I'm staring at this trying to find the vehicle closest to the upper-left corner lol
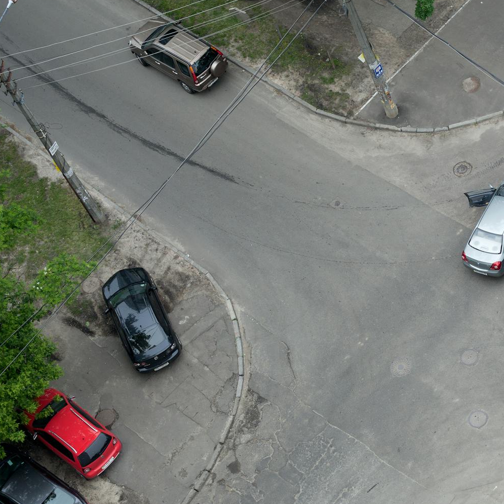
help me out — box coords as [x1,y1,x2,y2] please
[131,20,234,94]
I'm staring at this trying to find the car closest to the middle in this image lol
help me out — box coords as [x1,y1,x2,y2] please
[102,266,182,374]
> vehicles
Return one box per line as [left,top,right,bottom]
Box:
[0,446,85,504]
[25,384,125,484]
[131,20,234,94]
[102,266,182,374]
[458,177,504,279]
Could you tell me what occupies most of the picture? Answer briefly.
paved ground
